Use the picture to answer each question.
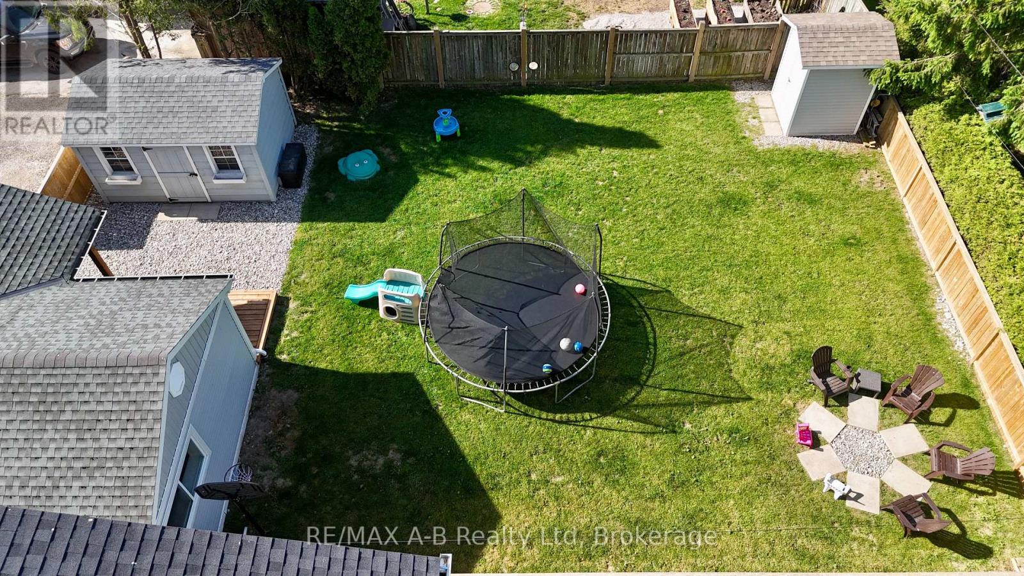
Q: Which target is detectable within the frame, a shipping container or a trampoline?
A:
trampoline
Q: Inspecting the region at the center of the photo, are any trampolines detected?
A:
Yes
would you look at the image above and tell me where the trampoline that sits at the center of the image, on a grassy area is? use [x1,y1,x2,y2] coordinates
[417,184,611,413]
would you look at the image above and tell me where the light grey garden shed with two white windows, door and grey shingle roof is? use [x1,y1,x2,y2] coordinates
[62,61,296,204]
